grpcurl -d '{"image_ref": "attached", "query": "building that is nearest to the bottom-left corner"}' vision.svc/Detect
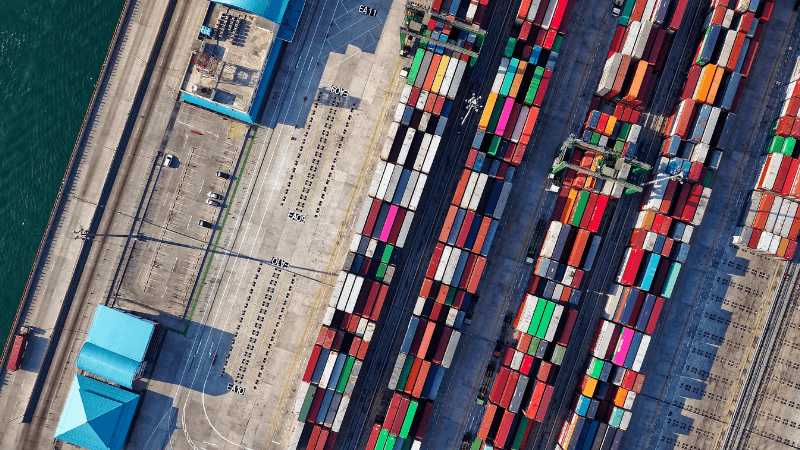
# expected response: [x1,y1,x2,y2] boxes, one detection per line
[55,371,142,450]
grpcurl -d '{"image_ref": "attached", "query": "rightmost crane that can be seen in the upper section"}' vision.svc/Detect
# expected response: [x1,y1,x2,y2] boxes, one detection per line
[542,135,655,197]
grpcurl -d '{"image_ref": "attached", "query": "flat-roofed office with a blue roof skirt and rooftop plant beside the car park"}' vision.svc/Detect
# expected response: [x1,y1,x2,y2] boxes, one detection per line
[180,0,307,123]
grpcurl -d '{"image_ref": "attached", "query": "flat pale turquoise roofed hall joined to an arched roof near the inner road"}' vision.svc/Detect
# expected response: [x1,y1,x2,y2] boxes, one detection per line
[74,302,168,387]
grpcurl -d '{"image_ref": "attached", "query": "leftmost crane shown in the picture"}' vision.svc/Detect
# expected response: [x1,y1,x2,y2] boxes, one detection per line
[398,2,491,77]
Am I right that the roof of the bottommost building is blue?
Yes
